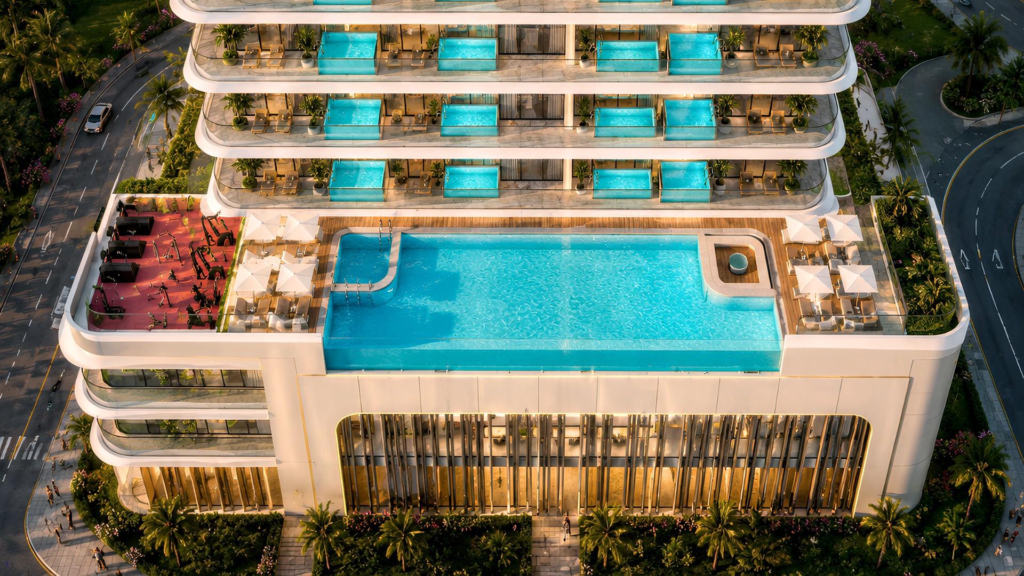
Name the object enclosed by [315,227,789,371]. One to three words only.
swimming pool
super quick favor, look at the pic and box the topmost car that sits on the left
[81,102,118,135]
